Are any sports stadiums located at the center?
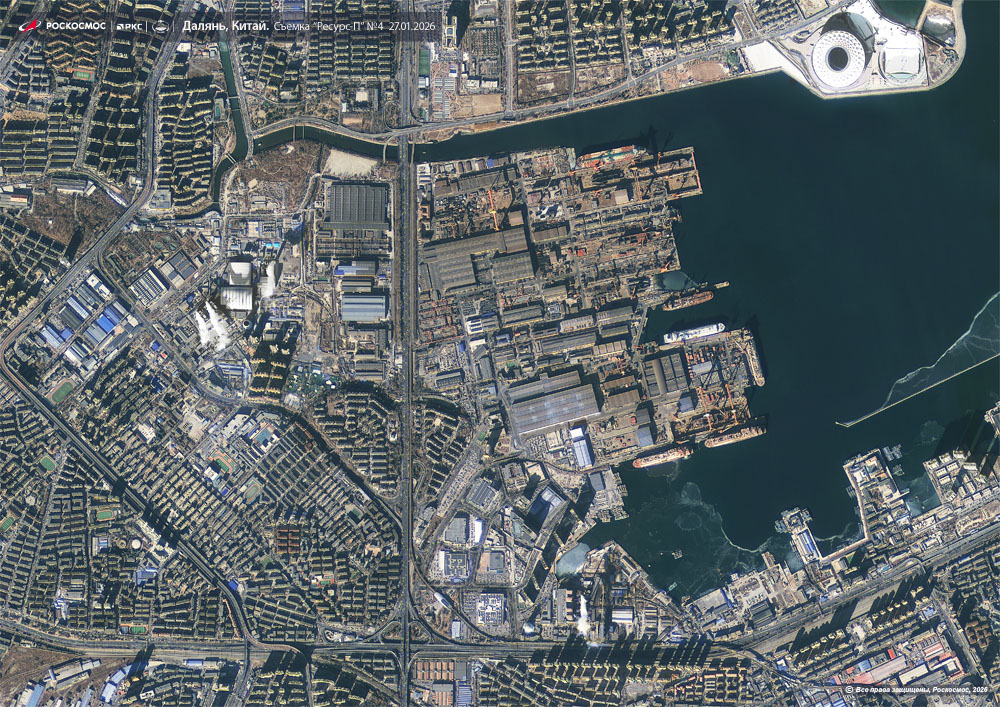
No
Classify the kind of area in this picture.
port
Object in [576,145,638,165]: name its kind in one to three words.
ship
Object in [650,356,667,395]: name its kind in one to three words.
building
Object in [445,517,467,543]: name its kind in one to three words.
building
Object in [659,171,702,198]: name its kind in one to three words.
pier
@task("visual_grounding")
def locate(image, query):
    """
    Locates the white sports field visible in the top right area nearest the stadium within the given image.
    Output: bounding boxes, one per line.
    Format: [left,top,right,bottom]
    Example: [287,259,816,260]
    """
[880,48,925,84]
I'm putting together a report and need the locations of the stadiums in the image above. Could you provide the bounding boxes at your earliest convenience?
[812,33,866,89]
